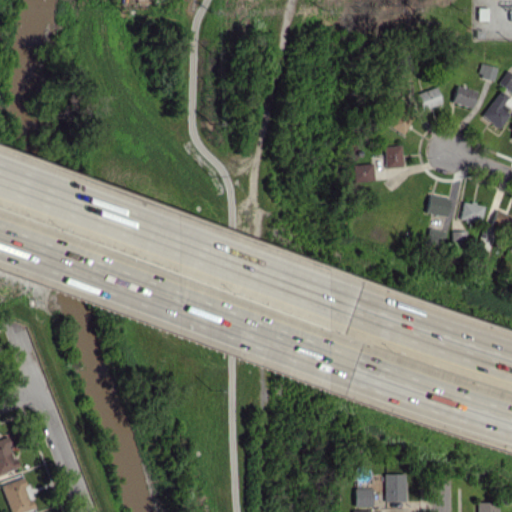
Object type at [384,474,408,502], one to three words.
house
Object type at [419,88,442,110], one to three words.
house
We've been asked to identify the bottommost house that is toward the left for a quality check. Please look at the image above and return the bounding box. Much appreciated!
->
[2,478,37,512]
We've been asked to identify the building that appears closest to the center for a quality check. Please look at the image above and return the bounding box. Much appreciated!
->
[354,164,376,183]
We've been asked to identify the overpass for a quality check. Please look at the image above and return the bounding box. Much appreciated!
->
[0,144,512,455]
